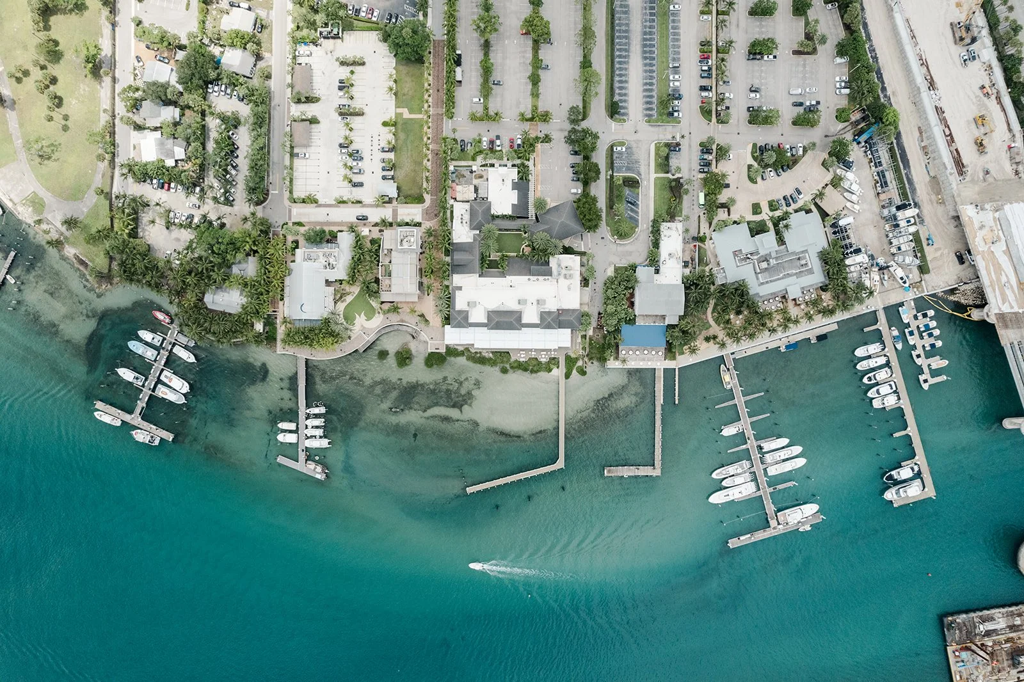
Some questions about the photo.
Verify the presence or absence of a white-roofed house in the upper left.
Yes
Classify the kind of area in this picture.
port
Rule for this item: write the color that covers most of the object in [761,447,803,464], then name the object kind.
white boat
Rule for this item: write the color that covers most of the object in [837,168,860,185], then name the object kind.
white boat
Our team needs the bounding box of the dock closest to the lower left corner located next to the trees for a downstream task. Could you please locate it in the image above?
[93,322,189,442]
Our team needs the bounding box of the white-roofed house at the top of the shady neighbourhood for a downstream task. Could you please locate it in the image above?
[221,8,257,35]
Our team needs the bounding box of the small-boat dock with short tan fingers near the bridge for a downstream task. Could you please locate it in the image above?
[904,300,946,383]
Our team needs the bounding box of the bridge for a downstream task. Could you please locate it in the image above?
[957,203,1024,432]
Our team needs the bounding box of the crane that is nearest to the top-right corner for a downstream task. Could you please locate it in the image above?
[953,0,993,45]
